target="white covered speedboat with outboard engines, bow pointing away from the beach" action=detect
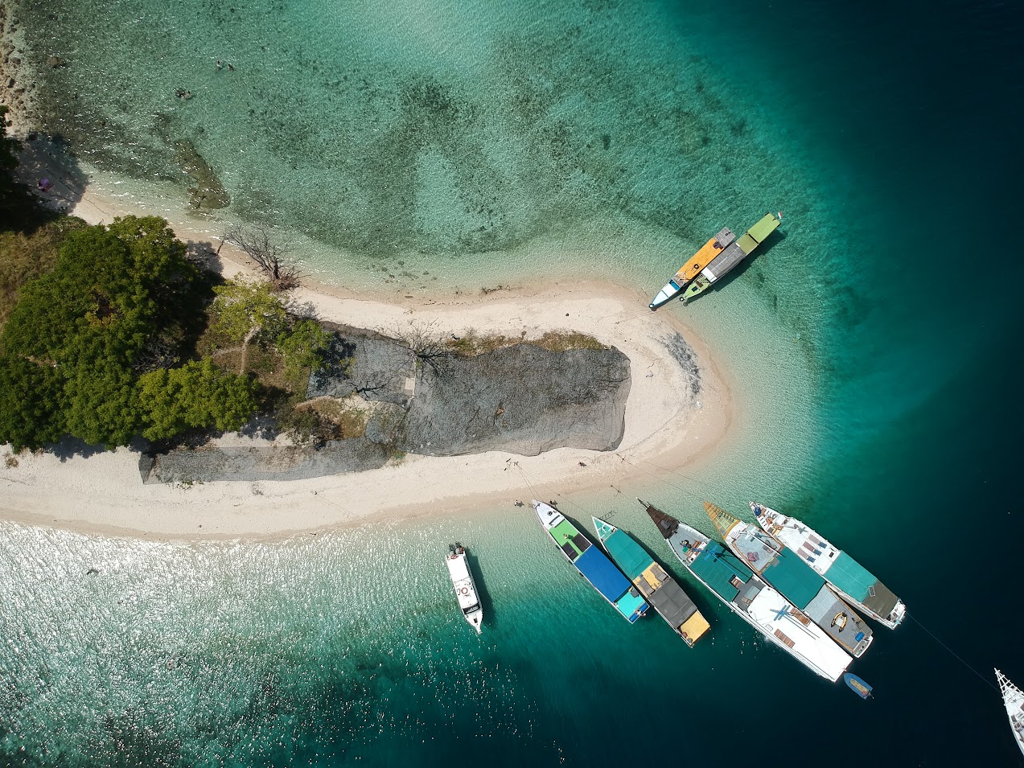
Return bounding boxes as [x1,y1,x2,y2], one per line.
[446,538,483,633]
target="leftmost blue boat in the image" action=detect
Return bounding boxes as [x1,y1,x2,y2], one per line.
[532,500,650,624]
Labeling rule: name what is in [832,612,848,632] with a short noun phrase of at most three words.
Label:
boat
